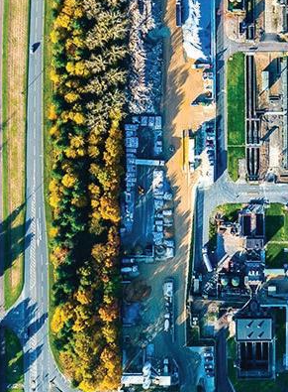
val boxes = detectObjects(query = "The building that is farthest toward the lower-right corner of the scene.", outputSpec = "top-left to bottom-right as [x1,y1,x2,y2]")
[237,316,273,340]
